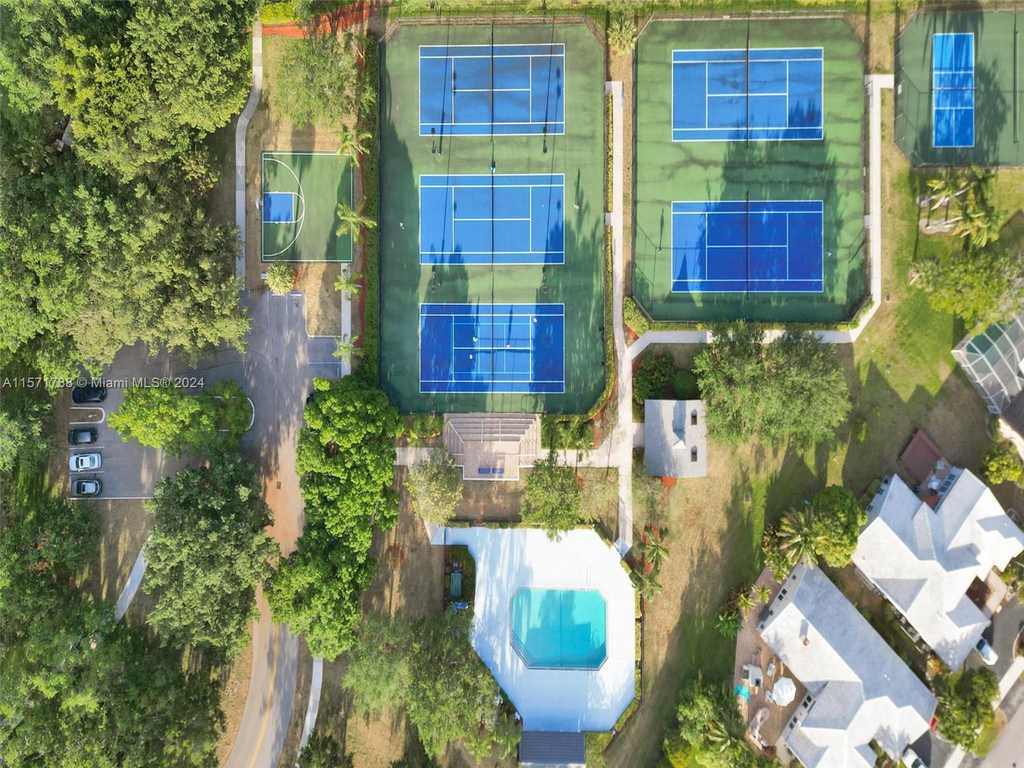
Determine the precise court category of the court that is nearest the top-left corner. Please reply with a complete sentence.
I'd identify the court that is nearest the top-left corner as a basketball court.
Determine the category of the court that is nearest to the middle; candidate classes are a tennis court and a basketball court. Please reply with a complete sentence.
From above, the court that is nearest to the middle can be identified as a tennis court.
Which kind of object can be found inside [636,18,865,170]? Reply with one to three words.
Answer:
tennis court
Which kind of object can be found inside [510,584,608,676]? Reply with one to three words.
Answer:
swimming pool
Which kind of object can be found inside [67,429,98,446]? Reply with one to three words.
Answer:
car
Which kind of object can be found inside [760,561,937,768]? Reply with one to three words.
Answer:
house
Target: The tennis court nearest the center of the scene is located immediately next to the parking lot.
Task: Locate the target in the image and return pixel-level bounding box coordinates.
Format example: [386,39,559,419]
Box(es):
[379,284,605,413]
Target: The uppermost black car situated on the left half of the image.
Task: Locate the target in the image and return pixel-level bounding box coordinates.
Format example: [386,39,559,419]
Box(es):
[72,387,107,404]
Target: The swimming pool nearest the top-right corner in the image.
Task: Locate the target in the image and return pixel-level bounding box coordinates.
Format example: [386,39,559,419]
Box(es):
[965,313,1018,357]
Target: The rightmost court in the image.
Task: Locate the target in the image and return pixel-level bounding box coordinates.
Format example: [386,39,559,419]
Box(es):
[895,11,1024,166]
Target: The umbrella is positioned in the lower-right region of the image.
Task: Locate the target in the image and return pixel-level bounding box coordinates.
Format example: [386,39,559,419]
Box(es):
[772,679,795,702]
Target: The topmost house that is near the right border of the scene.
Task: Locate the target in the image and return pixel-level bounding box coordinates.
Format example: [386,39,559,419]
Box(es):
[992,387,1024,456]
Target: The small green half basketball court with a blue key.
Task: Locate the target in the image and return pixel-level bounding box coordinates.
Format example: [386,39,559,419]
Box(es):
[261,151,353,262]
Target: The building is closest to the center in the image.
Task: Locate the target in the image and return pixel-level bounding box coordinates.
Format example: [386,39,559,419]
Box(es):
[645,400,706,477]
